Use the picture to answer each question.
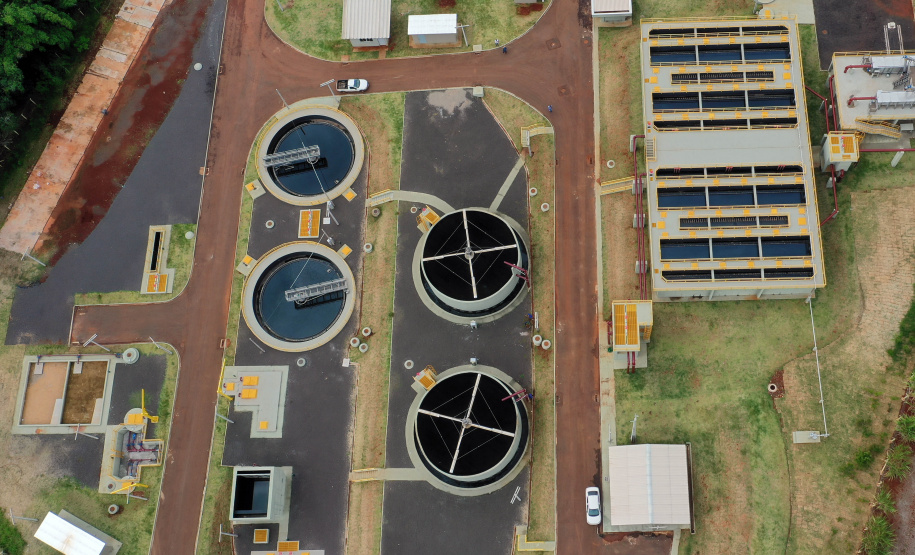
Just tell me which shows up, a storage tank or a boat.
storage tank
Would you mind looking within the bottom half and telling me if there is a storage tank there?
Yes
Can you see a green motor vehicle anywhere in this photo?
No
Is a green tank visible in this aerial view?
No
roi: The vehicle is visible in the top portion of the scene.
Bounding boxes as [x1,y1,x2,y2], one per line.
[335,77,370,94]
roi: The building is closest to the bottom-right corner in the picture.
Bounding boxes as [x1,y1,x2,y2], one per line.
[603,444,701,555]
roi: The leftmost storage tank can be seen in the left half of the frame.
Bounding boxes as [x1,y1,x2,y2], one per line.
[230,467,283,523]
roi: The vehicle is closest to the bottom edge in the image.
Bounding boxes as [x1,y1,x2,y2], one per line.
[584,487,603,526]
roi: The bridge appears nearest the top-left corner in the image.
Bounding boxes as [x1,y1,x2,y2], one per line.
[259,144,319,168]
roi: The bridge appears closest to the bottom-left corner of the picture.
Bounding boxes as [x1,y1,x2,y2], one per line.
[288,280,349,307]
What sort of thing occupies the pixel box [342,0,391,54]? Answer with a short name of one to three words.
house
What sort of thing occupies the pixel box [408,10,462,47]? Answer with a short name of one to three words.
shed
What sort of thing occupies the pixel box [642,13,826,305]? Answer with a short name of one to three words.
storage tank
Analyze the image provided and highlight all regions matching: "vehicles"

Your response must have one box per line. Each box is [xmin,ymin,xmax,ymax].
[335,77,370,94]
[584,487,603,526]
